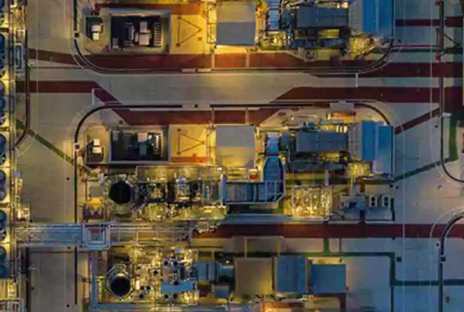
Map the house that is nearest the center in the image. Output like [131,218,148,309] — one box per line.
[210,127,261,166]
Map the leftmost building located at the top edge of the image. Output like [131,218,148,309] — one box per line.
[210,2,261,49]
